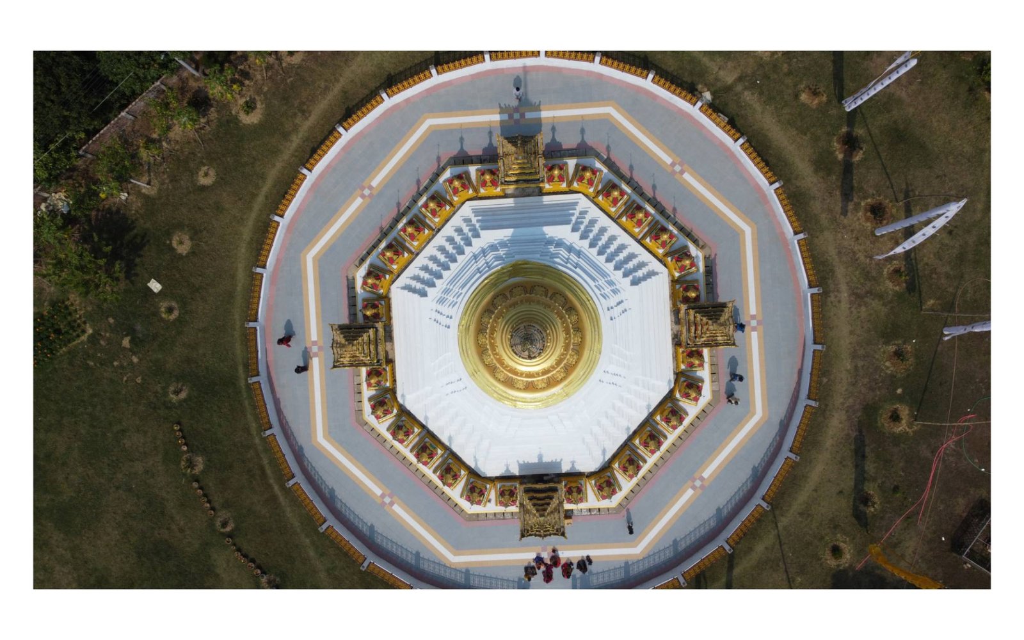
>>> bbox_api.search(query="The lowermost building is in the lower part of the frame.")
[514,482,569,541]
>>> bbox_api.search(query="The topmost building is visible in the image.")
[493,130,547,191]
